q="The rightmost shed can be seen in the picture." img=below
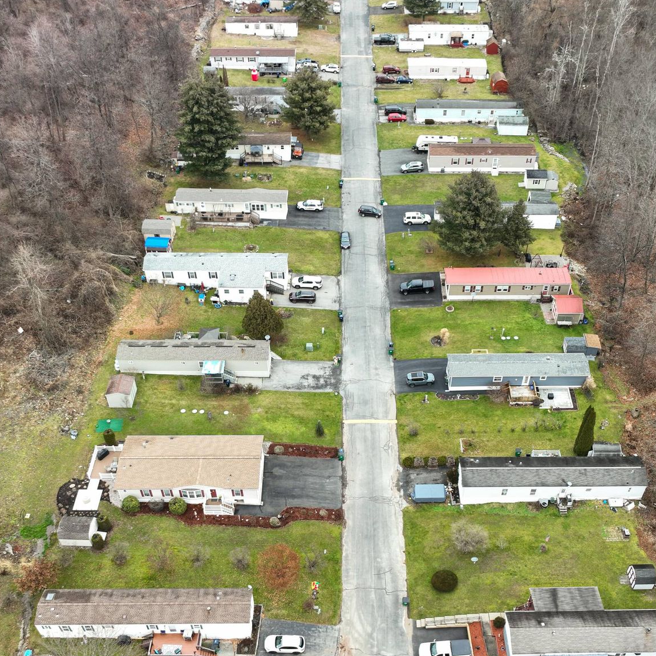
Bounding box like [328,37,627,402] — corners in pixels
[629,563,656,590]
